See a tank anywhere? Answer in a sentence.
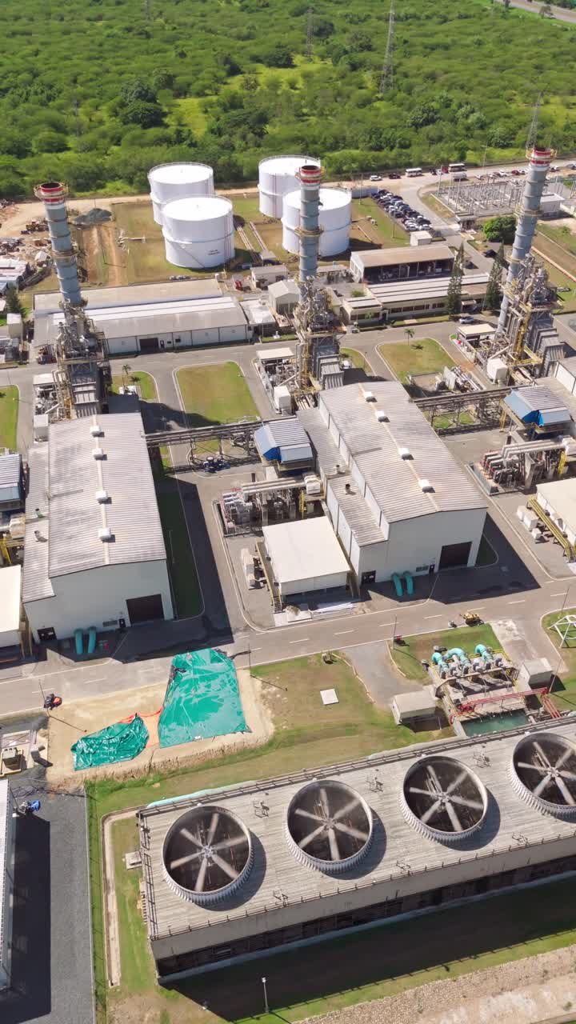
Yes, the picture does show a tank.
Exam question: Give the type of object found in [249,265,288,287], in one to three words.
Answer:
shed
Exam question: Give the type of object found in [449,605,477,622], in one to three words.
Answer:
work vehicle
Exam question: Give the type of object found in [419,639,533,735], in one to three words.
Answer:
building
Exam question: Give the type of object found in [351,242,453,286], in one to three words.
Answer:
building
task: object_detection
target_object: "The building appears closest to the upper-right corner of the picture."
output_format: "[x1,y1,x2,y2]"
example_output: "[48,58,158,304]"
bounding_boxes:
[536,193,566,214]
